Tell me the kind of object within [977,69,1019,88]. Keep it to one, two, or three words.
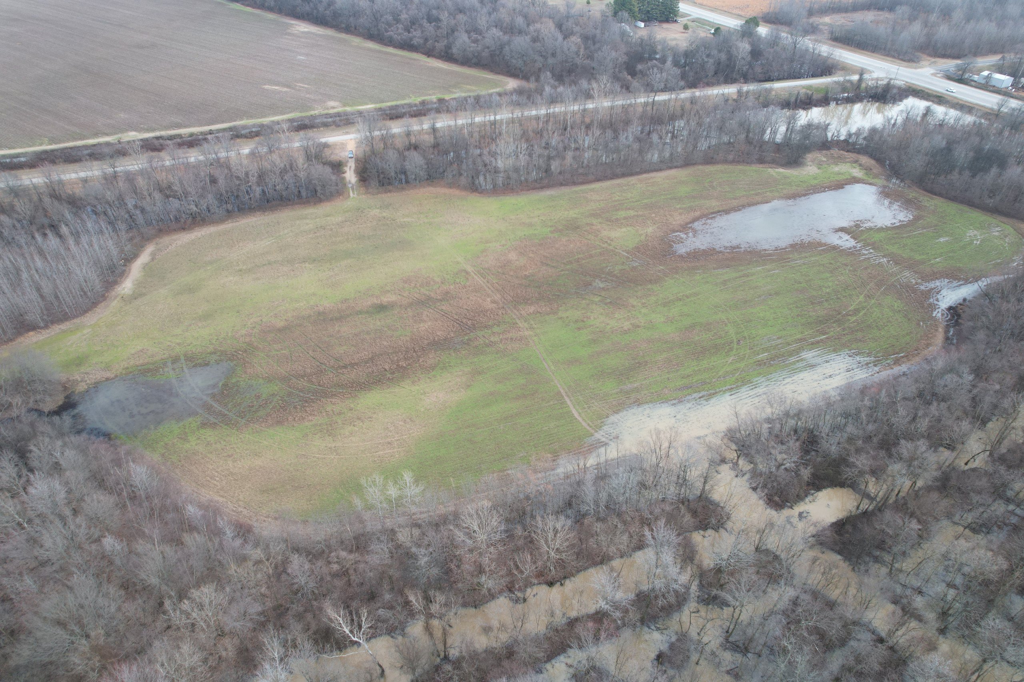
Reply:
building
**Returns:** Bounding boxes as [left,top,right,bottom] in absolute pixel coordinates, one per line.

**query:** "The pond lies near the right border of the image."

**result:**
[757,95,1003,150]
